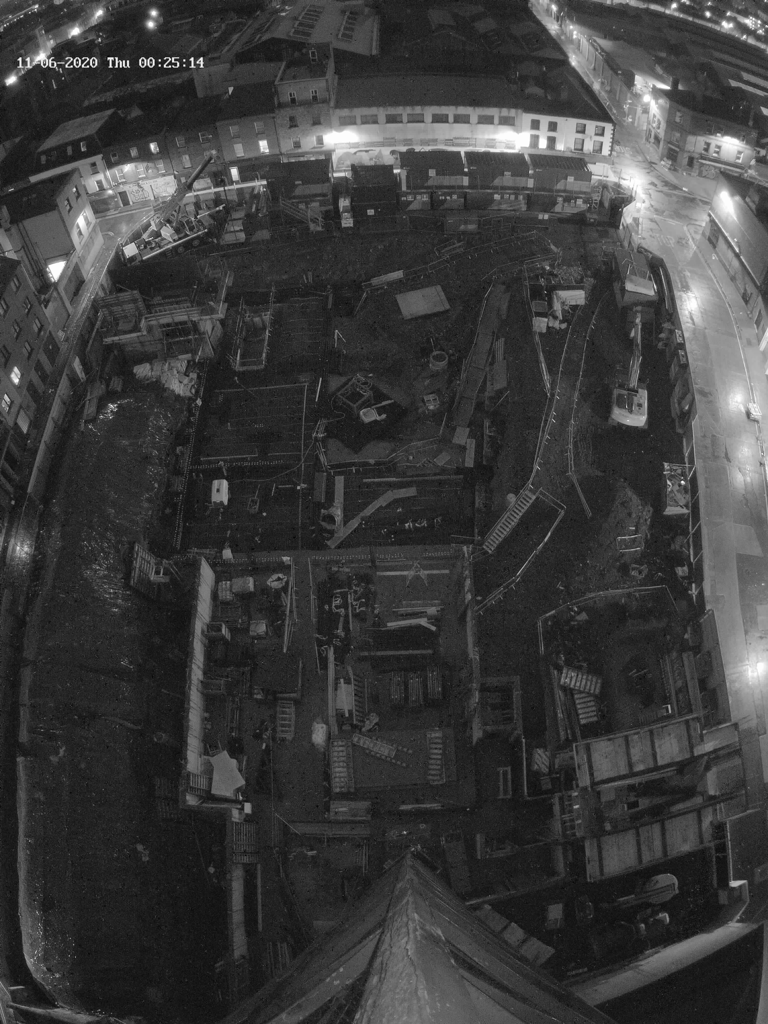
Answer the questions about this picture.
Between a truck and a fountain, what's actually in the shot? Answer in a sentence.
Of the two, only a truck appears.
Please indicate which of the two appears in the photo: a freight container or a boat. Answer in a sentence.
Looking from above, you can make out a freight container.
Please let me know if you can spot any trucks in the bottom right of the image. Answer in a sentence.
Yes, a truck shows up in the bottom right of the image.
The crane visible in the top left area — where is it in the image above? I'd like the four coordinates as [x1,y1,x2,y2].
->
[103,144,234,278]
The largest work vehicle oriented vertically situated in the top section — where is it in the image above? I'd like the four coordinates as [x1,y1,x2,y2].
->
[607,307,650,437]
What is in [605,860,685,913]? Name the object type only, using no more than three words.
work vehicle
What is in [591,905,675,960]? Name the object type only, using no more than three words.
truck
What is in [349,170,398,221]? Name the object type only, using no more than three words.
building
